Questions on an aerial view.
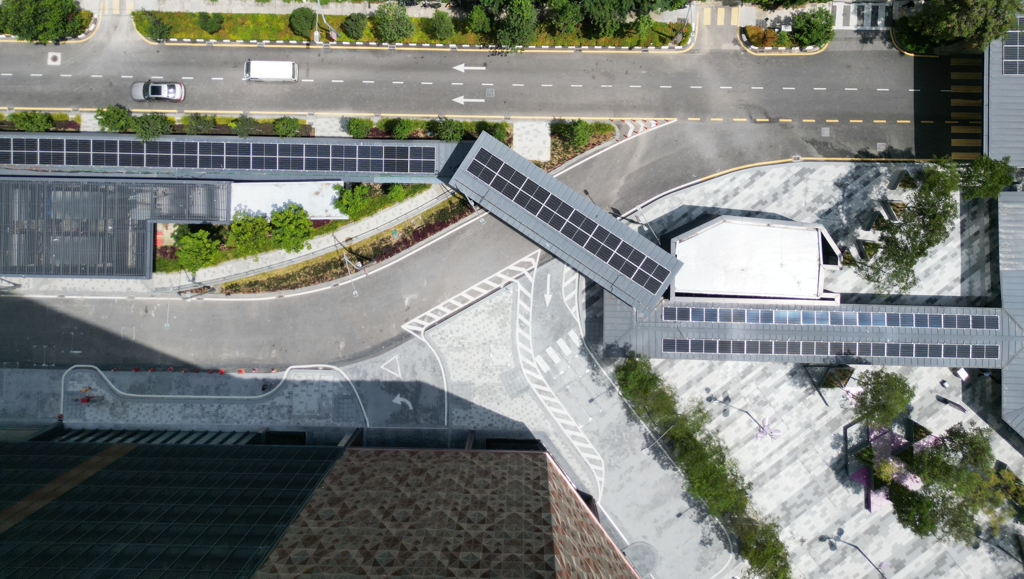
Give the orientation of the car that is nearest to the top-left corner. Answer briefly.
from side to side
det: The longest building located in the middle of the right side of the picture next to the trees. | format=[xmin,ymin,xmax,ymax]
[660,213,843,307]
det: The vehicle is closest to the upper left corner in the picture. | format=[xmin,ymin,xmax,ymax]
[128,78,185,103]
